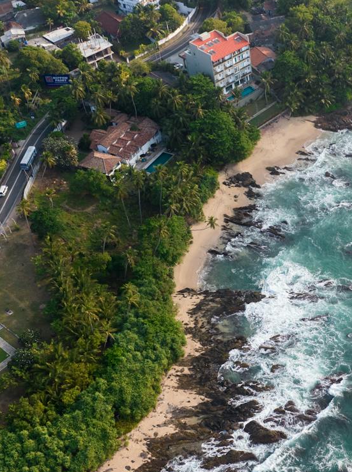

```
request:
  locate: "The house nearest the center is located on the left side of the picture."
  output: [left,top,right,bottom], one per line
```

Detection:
[76,116,182,177]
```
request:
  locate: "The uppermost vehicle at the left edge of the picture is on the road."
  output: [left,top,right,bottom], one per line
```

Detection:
[16,143,36,171]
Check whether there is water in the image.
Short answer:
Yes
